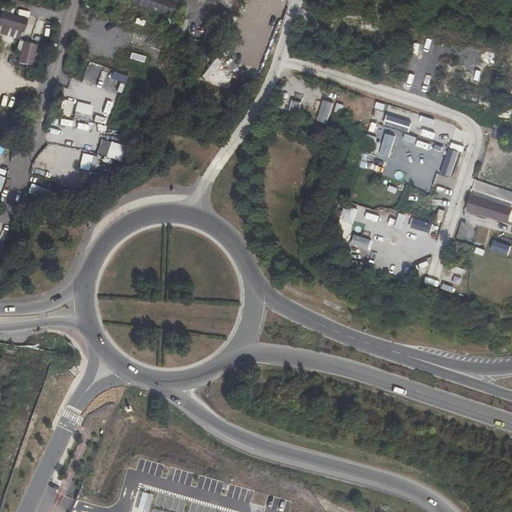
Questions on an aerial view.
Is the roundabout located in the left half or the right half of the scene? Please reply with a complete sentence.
It is on the left.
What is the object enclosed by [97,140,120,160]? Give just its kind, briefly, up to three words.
house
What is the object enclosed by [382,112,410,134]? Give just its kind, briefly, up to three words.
house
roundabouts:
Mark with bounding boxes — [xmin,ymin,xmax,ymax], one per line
[75,202,265,392]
